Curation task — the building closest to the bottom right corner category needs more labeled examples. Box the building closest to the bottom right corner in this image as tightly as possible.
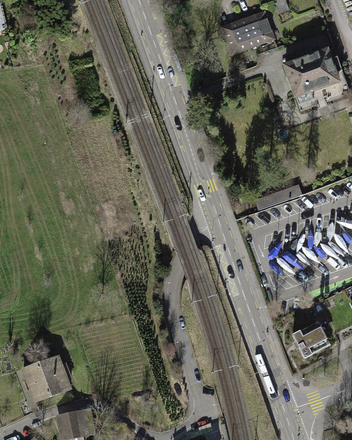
[294,324,332,360]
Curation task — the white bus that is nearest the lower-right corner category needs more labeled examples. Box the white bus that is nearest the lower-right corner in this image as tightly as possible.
[256,354,278,400]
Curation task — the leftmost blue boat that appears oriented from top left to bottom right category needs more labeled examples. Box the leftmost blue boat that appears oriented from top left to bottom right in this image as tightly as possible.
[268,260,283,276]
